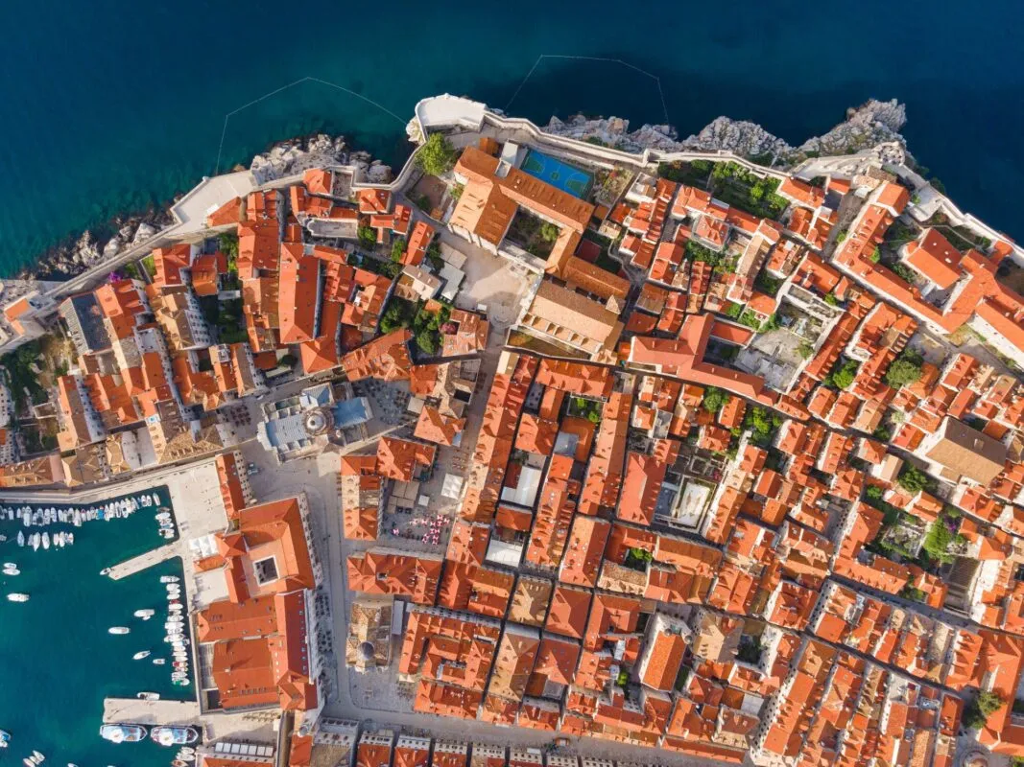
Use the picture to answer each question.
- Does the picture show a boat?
Yes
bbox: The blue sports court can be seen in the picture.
[517,147,599,201]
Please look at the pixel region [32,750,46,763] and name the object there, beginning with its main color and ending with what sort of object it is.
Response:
white boat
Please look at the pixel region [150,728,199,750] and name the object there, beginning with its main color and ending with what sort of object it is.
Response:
white boat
